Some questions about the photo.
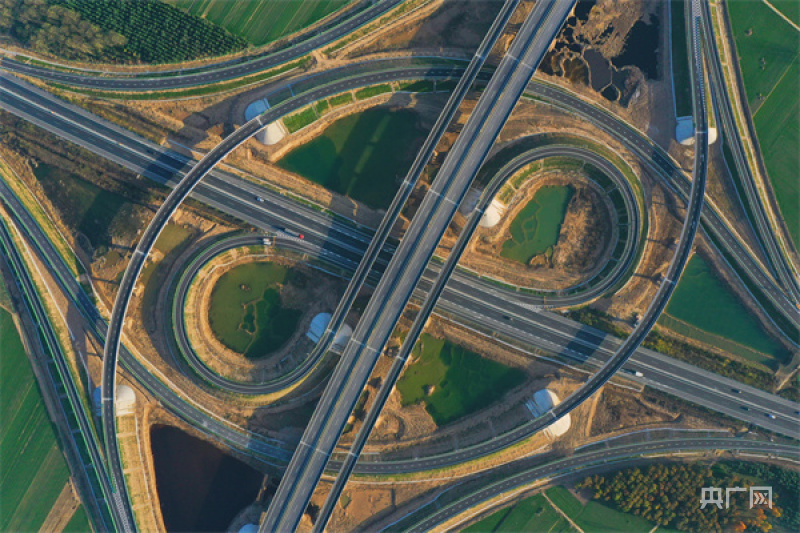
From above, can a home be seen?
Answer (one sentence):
No, this view has no home in it.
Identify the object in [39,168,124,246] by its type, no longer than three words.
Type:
pond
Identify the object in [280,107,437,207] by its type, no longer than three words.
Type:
pond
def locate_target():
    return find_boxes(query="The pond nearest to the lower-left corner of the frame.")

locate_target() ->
[152,424,262,533]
